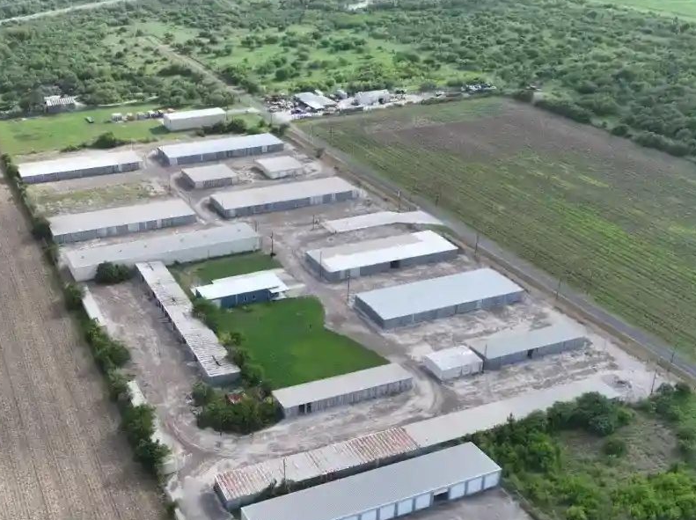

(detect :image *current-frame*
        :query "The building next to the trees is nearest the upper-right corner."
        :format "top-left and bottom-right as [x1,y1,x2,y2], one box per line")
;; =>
[349,89,391,103]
